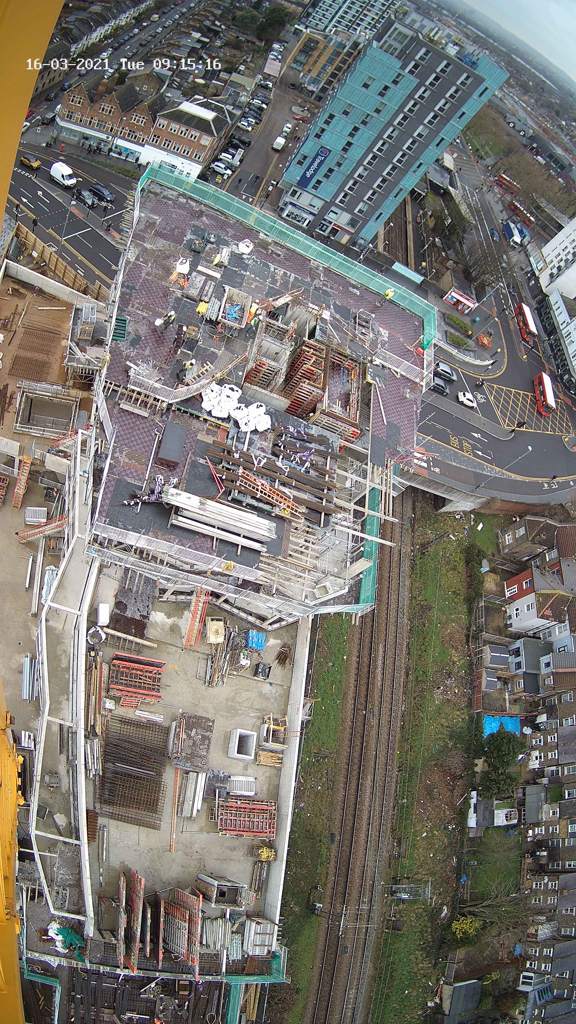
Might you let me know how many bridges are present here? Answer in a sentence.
I count just 1 bridge.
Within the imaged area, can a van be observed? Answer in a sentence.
Yes, there is a van in the image.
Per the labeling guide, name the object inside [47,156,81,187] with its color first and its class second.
white van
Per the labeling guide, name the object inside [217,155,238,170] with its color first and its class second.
gray car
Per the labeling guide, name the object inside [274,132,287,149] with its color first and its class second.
white vehicle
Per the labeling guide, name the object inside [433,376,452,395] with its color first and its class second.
gray car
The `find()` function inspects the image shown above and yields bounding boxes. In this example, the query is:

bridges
[381,466,458,518]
